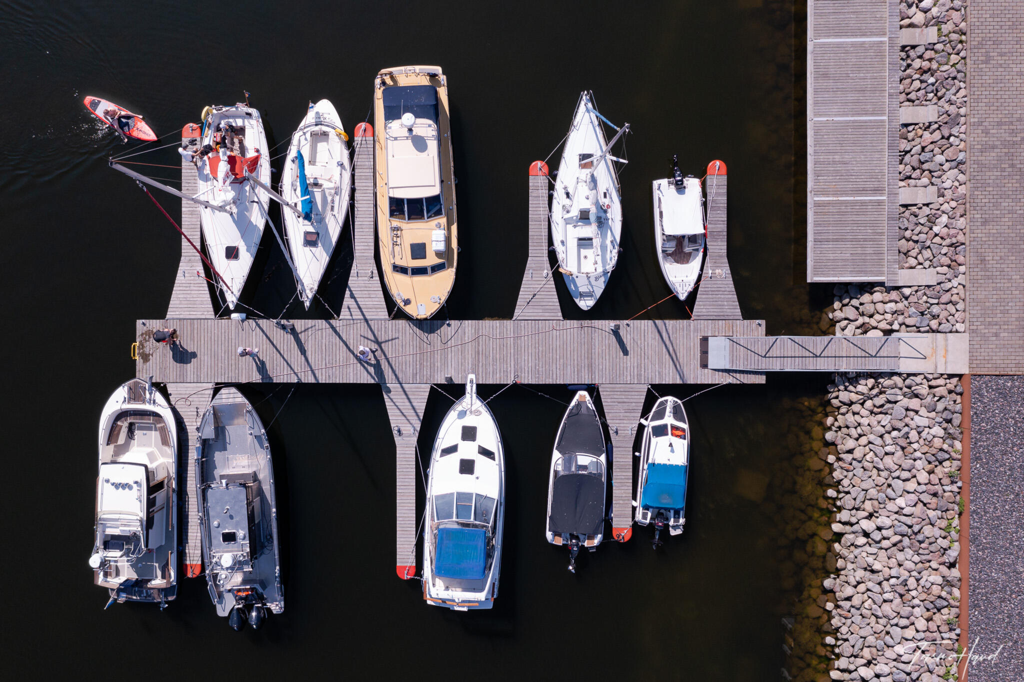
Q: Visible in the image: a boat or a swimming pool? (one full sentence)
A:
I can see a boat in this picture.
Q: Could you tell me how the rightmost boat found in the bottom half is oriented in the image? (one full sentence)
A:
The rightmost boat found in the bottom half is laid out vertically.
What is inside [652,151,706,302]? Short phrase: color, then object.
white boat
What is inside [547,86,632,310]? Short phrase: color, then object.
white boat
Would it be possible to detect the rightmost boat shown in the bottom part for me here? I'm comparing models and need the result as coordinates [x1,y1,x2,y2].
[631,395,691,554]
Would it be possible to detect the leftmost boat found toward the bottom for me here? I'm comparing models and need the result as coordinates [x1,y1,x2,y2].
[88,376,184,611]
